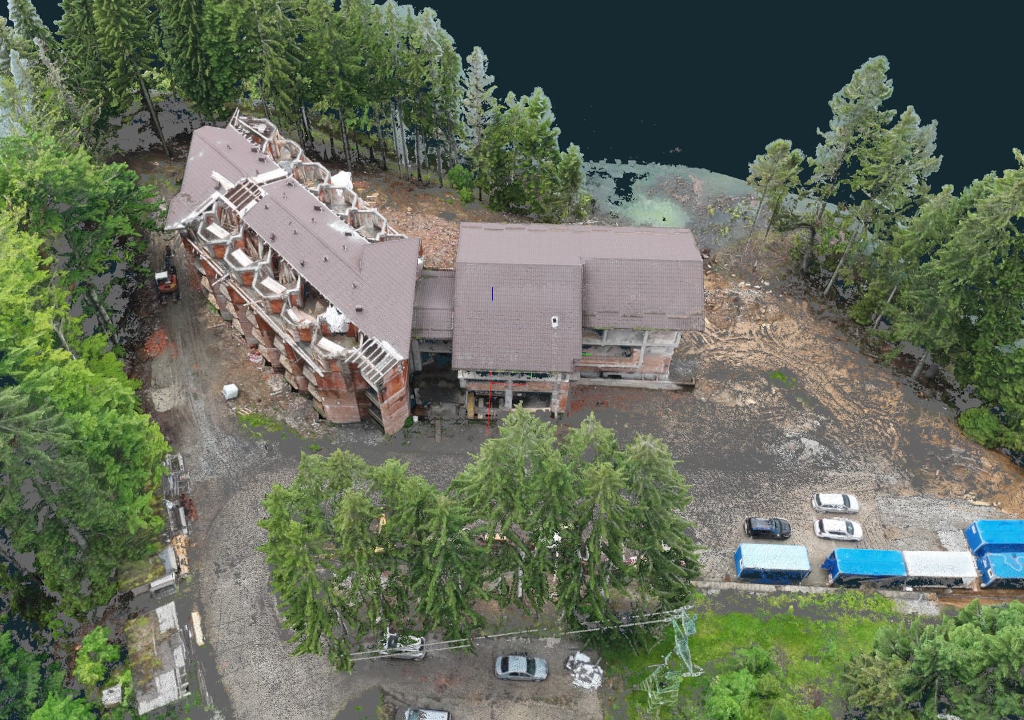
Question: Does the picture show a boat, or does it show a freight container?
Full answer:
The image shows a freight container.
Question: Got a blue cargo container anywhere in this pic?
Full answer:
Yes, the frame does contain a blue cargo container.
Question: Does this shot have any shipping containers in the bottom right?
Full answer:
Yes, in the bottom right there is a shipping container.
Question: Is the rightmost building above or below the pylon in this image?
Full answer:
In the image, the rightmost building appears above the pylon.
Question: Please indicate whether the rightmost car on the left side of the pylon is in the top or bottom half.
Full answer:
Seen from above, the rightmost car on the left side of the pylon lies in the bottom half of the view.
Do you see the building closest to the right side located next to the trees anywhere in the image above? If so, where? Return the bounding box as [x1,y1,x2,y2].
[451,226,707,416]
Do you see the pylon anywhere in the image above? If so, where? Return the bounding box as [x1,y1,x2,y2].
[640,600,711,720]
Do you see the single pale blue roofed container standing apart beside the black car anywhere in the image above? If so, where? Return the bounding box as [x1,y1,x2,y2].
[735,544,812,583]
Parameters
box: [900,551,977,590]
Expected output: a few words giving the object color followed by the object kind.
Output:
white shipping container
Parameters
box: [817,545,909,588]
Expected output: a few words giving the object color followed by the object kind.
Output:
blue shipping container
